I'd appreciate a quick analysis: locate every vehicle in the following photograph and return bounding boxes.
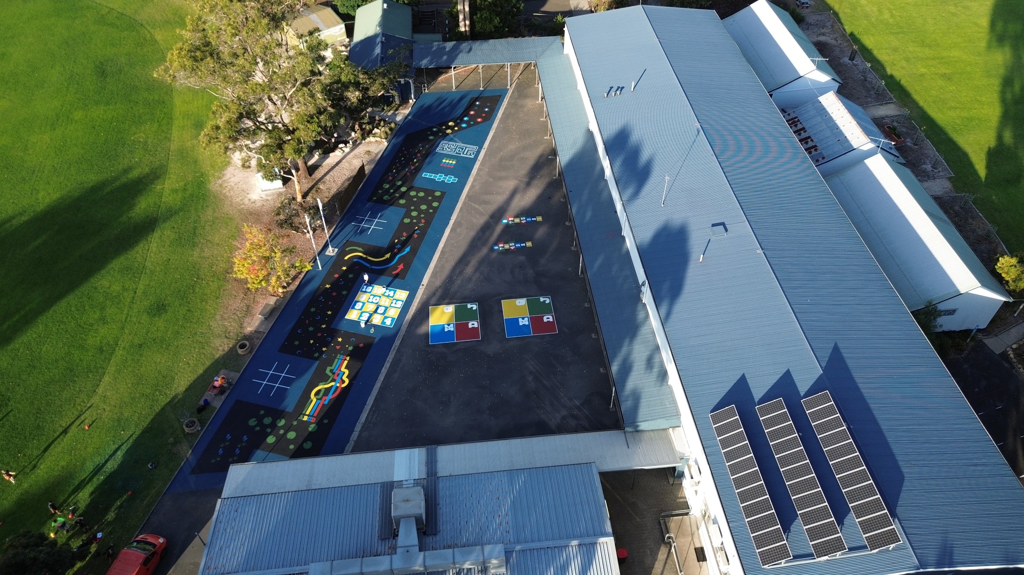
[106,534,160,575]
